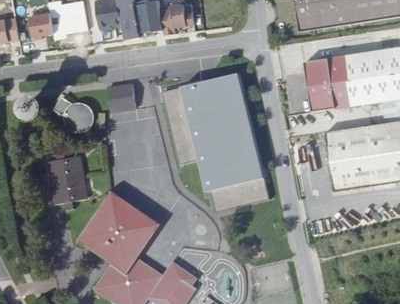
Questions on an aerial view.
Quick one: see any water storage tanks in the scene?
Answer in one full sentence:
Yes, the frame does contain a water storage tank.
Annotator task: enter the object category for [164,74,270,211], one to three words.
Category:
building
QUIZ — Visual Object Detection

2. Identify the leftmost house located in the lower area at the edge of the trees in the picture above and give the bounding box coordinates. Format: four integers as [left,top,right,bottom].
[49,156,90,210]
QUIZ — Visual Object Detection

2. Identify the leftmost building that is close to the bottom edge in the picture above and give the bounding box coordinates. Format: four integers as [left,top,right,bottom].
[78,192,197,304]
